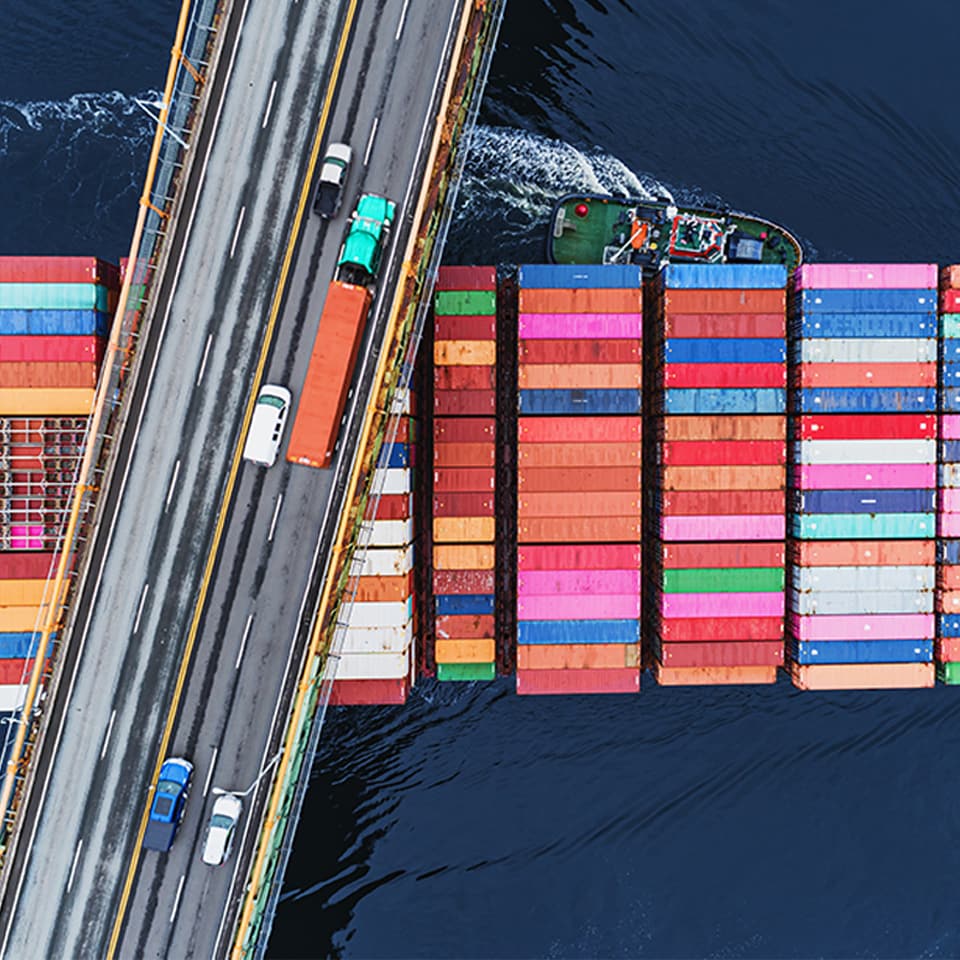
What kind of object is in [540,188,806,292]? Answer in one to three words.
boat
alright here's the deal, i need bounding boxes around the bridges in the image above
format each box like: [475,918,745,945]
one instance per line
[0,0,511,960]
